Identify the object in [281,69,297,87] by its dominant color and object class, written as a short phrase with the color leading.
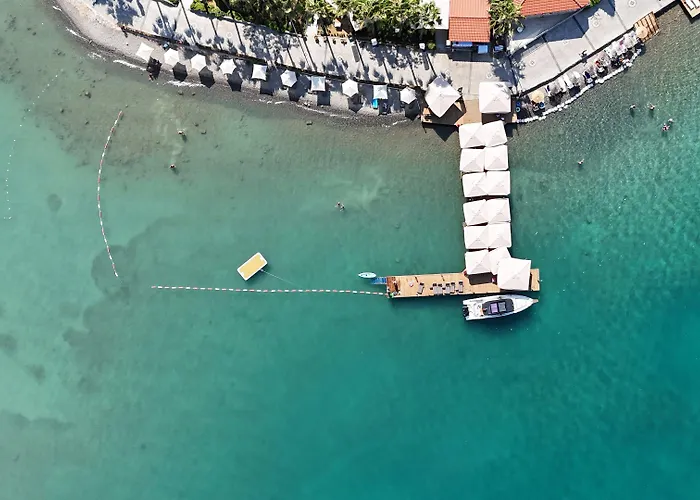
white umbrella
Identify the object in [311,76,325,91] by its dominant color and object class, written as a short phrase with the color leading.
white umbrella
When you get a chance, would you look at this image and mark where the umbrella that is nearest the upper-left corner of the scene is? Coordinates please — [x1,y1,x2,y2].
[135,40,156,62]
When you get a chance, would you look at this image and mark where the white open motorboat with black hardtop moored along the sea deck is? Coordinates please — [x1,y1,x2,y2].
[459,290,539,319]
